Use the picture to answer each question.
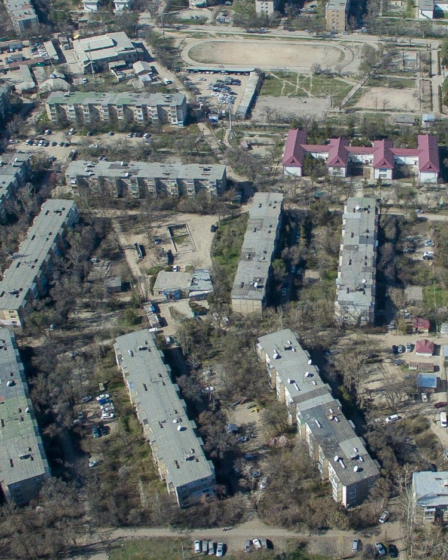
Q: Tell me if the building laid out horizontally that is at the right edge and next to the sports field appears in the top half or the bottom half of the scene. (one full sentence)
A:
The building laid out horizontally that is at the right edge and next to the sports field is in the top half of the image.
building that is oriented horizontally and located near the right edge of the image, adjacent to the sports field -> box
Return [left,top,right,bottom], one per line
[283,125,440,184]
